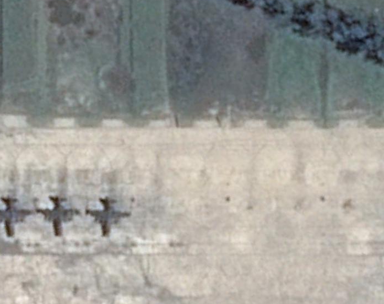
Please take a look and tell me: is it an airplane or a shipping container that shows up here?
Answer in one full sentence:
Of the two, only an airplane appears.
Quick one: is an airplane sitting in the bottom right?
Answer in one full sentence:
No, I see no airplane in the bottom right.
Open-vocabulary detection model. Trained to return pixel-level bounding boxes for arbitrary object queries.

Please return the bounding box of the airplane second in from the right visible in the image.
[39,196,79,235]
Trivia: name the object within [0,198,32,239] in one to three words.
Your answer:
airplane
